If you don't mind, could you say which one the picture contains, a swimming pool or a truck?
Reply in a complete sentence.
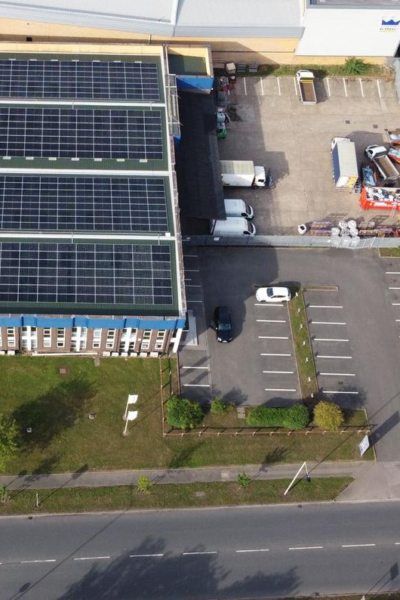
The image shows a truck.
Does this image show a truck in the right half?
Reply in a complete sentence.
Yes, there is a truck in the right half.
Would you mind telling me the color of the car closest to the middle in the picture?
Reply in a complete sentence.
From above, the car closest to the middle appears black.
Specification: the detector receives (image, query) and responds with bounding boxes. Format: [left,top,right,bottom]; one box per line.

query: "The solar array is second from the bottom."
[0,175,168,231]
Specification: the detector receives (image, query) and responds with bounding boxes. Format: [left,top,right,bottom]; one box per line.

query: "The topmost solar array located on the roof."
[0,59,158,100]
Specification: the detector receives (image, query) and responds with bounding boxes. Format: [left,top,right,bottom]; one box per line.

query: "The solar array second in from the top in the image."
[0,107,162,161]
